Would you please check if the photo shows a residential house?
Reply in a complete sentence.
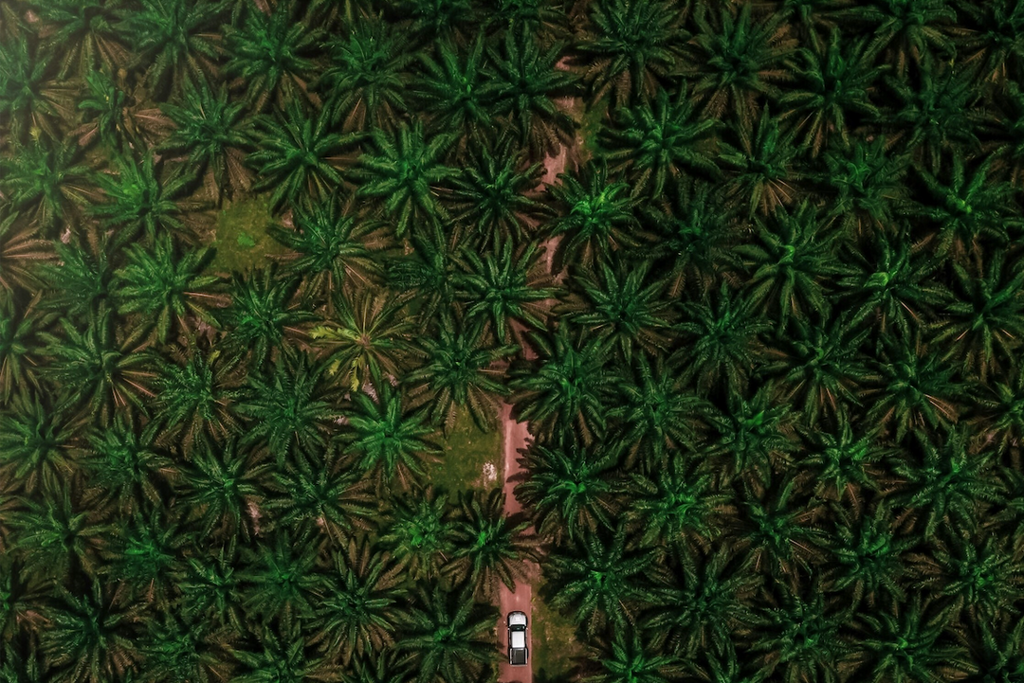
No, this view has no residential house in it.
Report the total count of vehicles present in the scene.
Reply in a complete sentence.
In total, there is 1 vehicle in the scene.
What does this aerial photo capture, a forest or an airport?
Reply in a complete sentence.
It's a forest.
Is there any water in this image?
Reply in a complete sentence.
No, no water is visible.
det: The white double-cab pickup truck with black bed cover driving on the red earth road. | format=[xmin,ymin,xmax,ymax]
[506,613,529,666]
